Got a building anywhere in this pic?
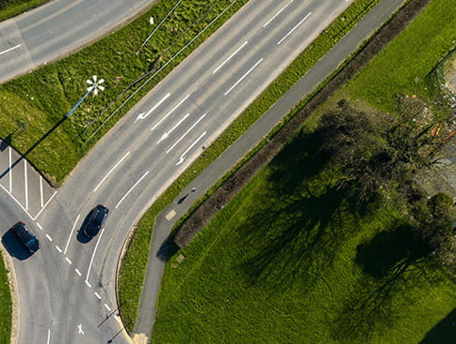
No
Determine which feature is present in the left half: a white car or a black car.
black car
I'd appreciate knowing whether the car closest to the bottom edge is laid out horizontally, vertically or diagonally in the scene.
diagonally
